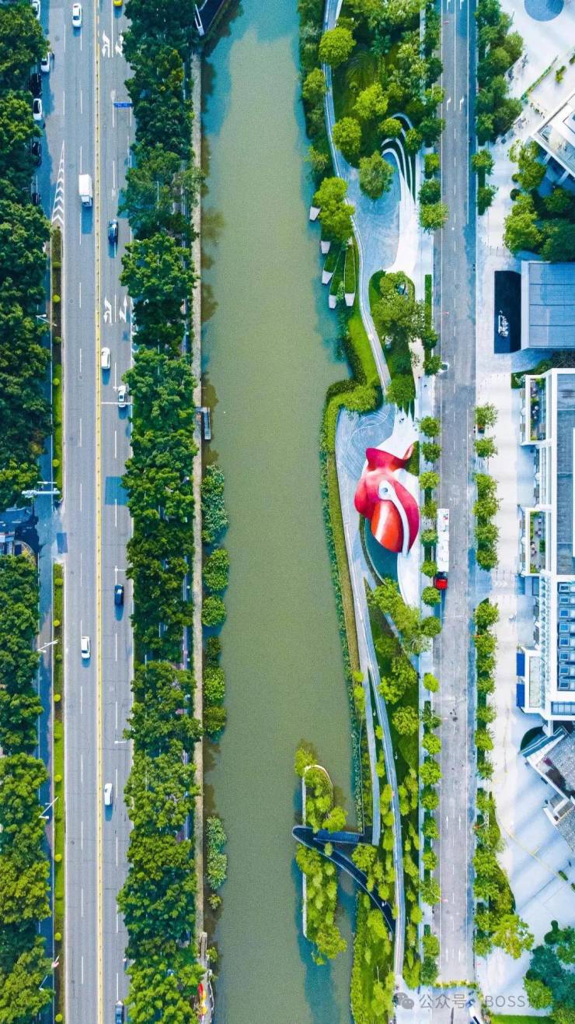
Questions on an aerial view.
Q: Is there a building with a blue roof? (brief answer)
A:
Yes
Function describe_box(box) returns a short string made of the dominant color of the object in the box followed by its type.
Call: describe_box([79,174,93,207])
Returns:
white vehicle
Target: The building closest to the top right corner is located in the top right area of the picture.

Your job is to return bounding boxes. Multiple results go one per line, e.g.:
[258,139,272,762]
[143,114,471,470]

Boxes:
[530,93,575,195]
